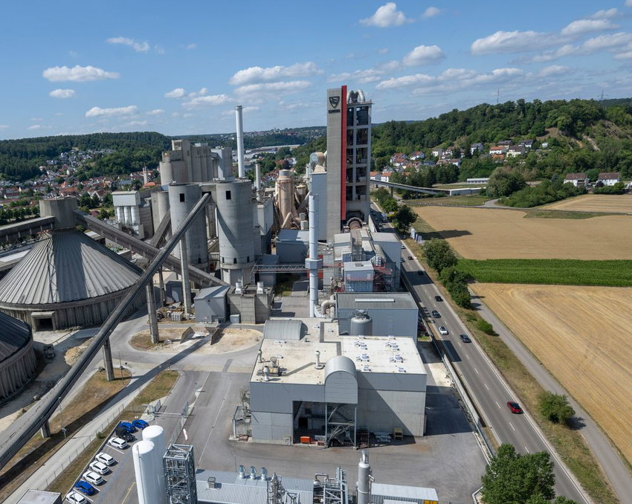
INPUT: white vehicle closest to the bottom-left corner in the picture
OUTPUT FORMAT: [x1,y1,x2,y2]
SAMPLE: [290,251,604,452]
[65,491,87,504]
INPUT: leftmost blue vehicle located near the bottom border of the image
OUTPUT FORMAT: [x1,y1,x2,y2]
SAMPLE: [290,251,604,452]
[74,480,96,496]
